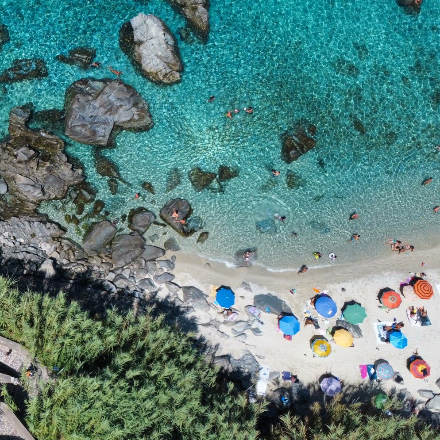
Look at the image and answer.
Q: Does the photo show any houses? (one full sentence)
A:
No, I can see no house in this picture.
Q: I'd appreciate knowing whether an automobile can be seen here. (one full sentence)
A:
No, I find no automobile anywhere in the image.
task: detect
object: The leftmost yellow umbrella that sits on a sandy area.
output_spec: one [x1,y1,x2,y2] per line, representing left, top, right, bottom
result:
[311,338,329,357]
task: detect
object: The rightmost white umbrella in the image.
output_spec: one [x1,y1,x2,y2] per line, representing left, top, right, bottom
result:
[398,284,416,301]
